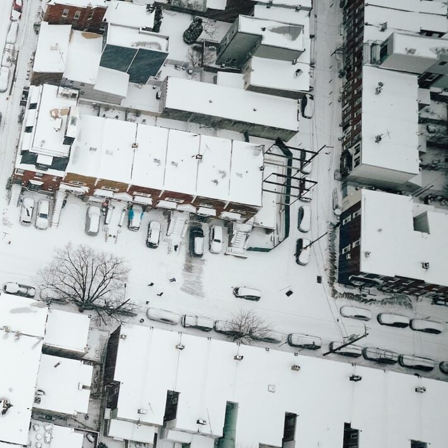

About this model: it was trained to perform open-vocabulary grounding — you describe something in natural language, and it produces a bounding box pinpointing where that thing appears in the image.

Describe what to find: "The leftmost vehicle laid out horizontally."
[4,283,34,298]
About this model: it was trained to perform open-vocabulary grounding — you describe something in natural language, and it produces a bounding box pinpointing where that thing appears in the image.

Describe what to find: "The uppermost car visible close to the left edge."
[9,0,23,21]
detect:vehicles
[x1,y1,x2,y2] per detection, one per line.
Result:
[300,96,314,118]
[84,208,100,235]
[0,41,15,70]
[9,0,23,21]
[4,283,34,298]
[294,238,310,266]
[339,306,369,322]
[18,199,35,226]
[289,334,317,350]
[179,315,214,332]
[296,209,311,231]
[187,228,203,255]
[297,177,312,203]
[328,342,361,357]
[41,289,70,303]
[400,355,431,370]
[208,227,225,253]
[35,202,50,229]
[248,329,277,346]
[411,318,446,335]
[145,223,160,248]
[5,22,19,43]
[377,313,407,329]
[232,286,261,303]
[363,348,395,365]
[147,308,179,325]
[125,206,141,231]
[212,322,241,336]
